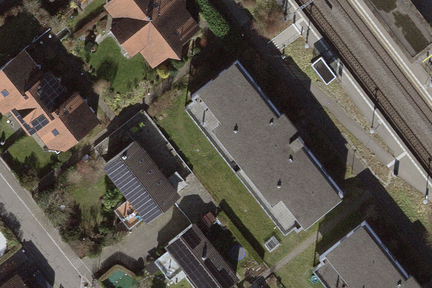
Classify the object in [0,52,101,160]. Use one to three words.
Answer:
house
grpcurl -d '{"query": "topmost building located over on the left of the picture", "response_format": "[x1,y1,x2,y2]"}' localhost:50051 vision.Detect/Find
[97,0,210,79]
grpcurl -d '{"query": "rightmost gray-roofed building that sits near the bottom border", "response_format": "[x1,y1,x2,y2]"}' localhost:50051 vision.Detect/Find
[314,218,424,288]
